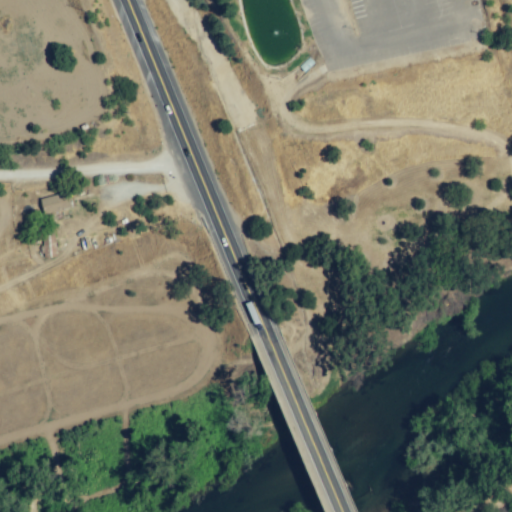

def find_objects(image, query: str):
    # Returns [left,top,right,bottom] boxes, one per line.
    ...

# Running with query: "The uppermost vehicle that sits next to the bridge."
[248,300,264,331]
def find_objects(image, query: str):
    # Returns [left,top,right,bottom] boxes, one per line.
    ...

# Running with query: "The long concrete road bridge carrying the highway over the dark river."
[253,330,358,512]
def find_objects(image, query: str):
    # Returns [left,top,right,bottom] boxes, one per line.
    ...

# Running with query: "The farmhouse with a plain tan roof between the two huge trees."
[40,195,64,214]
